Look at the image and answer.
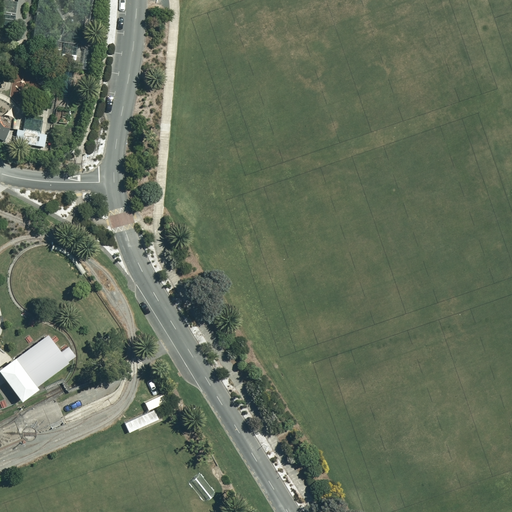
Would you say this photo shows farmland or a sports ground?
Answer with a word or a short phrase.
sports ground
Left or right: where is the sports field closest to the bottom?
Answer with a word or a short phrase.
left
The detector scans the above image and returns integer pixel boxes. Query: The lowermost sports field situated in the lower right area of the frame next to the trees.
[312,294,512,512]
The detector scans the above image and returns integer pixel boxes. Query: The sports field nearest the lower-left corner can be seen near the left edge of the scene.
[0,446,184,512]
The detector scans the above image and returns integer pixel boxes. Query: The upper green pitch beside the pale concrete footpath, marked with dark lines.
[192,0,498,175]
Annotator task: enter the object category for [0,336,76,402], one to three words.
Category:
building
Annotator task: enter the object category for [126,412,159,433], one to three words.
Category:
shed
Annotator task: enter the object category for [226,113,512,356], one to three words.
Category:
sports field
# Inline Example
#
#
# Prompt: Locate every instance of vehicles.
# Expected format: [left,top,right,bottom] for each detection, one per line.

[116,16,124,30]
[140,302,150,315]
[64,400,82,412]
[147,380,158,396]
[118,0,125,12]
[105,96,113,111]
